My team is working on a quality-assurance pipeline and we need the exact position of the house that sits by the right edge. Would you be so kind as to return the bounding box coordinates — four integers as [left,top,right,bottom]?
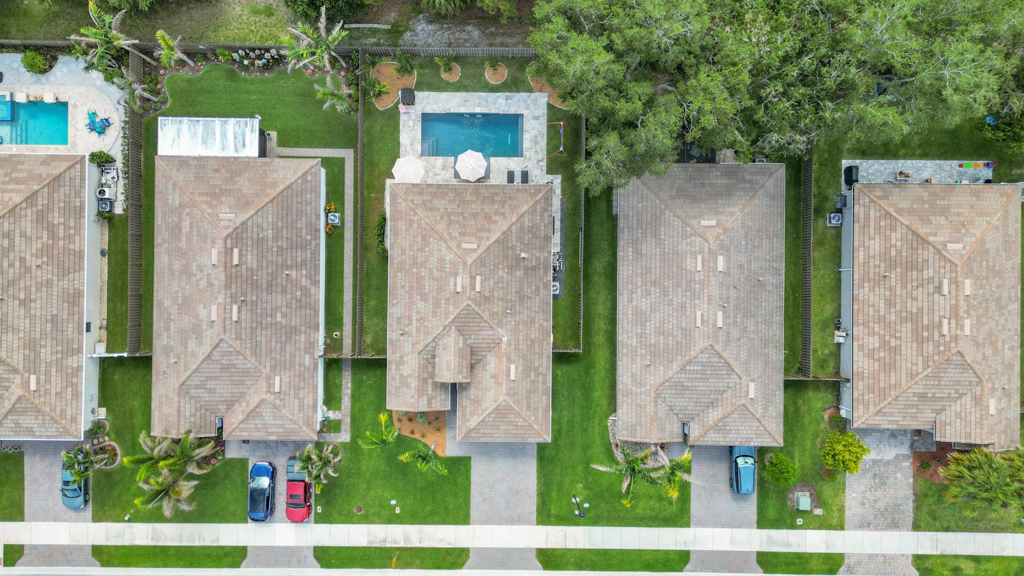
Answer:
[834,182,1024,450]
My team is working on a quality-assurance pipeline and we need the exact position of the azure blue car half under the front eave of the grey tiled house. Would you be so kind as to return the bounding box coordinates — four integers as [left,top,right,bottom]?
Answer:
[727,446,761,496]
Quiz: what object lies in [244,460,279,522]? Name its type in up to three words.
car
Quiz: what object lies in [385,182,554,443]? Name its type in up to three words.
house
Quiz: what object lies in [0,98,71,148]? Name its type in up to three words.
swimming pool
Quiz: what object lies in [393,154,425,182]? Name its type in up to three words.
umbrella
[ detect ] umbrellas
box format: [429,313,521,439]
[393,154,425,182]
[455,150,488,182]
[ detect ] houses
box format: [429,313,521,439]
[0,154,107,441]
[834,182,1024,450]
[151,155,328,441]
[611,162,789,447]
[385,182,554,443]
